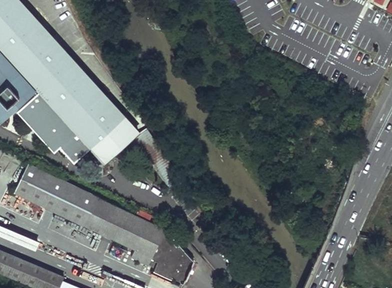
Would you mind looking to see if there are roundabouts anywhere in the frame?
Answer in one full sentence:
No, there appears to be no roundabout in this shot.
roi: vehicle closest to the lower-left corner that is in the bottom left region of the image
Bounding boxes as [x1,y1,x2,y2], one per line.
[73,269,102,286]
